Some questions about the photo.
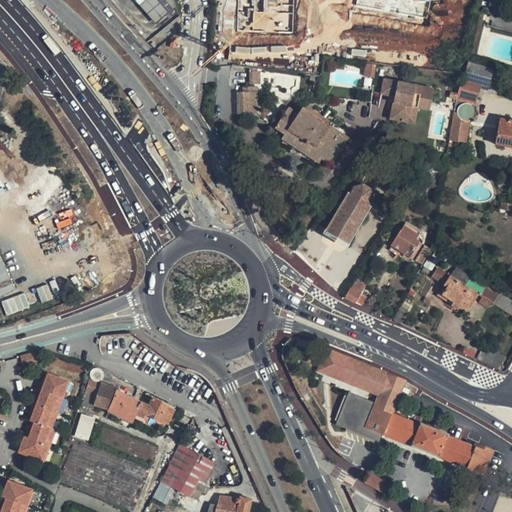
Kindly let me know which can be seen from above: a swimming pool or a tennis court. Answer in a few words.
swimming pool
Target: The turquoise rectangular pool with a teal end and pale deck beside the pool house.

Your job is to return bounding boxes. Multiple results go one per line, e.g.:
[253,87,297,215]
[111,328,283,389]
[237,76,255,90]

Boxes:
[328,66,364,88]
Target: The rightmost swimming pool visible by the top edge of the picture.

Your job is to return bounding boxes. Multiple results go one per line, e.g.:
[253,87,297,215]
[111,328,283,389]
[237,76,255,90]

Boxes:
[478,24,512,64]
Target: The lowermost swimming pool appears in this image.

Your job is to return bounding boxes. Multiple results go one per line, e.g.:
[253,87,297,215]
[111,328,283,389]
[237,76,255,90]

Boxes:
[458,172,495,203]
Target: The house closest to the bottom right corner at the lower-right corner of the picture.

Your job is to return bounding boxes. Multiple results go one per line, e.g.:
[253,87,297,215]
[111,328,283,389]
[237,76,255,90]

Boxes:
[468,446,496,476]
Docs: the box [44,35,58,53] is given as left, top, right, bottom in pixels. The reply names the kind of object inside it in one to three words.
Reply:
vehicle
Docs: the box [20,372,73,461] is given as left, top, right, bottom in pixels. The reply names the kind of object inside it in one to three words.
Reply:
building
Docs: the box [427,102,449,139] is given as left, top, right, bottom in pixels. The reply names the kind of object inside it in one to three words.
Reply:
swimming pool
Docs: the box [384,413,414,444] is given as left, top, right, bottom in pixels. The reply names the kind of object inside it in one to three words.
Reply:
house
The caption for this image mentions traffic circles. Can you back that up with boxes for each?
[142,222,274,382]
